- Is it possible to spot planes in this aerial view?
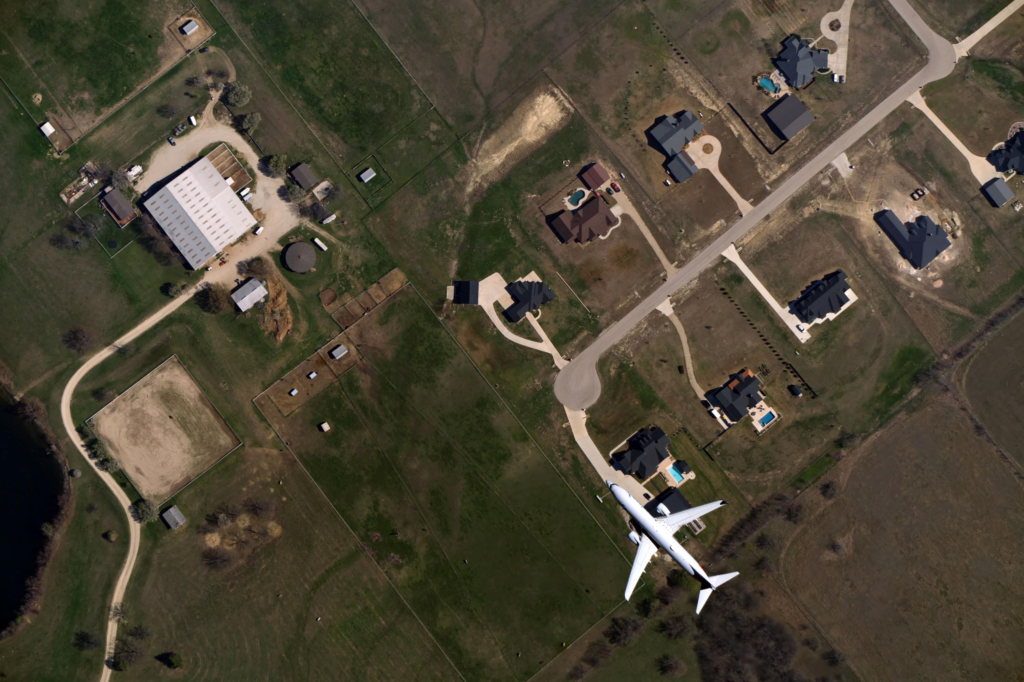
Yes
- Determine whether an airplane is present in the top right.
No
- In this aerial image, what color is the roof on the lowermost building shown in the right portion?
black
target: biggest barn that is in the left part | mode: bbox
[144,155,256,269]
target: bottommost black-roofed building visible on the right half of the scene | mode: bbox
[647,485,699,536]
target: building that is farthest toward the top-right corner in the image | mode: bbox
[991,132,1024,174]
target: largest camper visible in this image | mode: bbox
[126,165,143,180]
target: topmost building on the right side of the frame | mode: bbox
[774,37,828,85]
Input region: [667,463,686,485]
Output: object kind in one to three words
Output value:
swimming pool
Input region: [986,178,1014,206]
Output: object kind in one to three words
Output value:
building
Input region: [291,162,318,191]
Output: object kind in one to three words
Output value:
house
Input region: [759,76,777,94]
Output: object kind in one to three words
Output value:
swimming pool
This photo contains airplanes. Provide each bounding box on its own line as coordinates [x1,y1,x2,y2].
[605,479,741,615]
